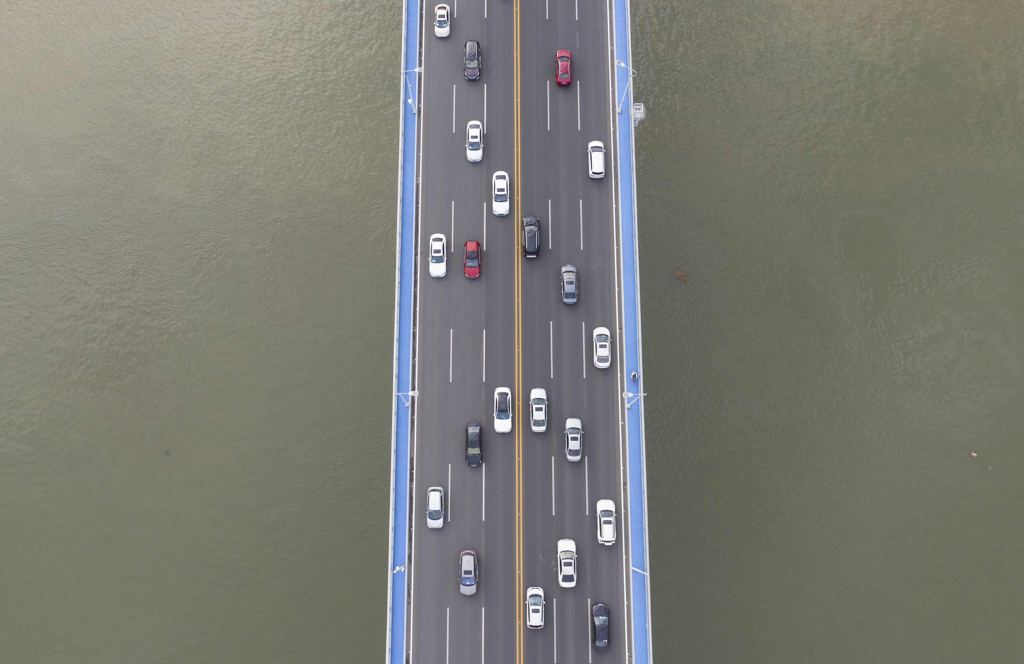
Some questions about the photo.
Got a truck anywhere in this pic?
No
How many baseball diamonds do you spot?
zero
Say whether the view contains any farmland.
No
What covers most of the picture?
water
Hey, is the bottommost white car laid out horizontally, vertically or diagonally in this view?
vertically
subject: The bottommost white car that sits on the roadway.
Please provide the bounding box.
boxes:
[525,586,545,630]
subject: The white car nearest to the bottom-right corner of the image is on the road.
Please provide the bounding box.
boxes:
[596,499,617,545]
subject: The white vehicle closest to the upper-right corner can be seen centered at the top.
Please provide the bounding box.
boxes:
[587,140,606,179]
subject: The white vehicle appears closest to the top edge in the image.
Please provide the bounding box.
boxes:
[433,4,451,38]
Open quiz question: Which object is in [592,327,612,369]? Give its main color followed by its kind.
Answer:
white car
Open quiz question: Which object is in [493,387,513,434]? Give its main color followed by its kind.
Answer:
white car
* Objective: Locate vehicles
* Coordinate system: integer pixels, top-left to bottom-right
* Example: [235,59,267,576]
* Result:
[521,216,541,258]
[555,49,573,86]
[464,422,484,468]
[425,487,445,529]
[433,4,451,38]
[458,550,479,596]
[590,602,611,653]
[560,264,579,305]
[465,121,484,163]
[463,41,481,81]
[525,586,545,630]
[556,538,578,588]
[529,388,549,433]
[587,140,606,179]
[491,172,511,216]
[596,499,617,545]
[463,241,482,279]
[428,234,447,278]
[563,418,584,462]
[592,327,612,369]
[493,387,513,434]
